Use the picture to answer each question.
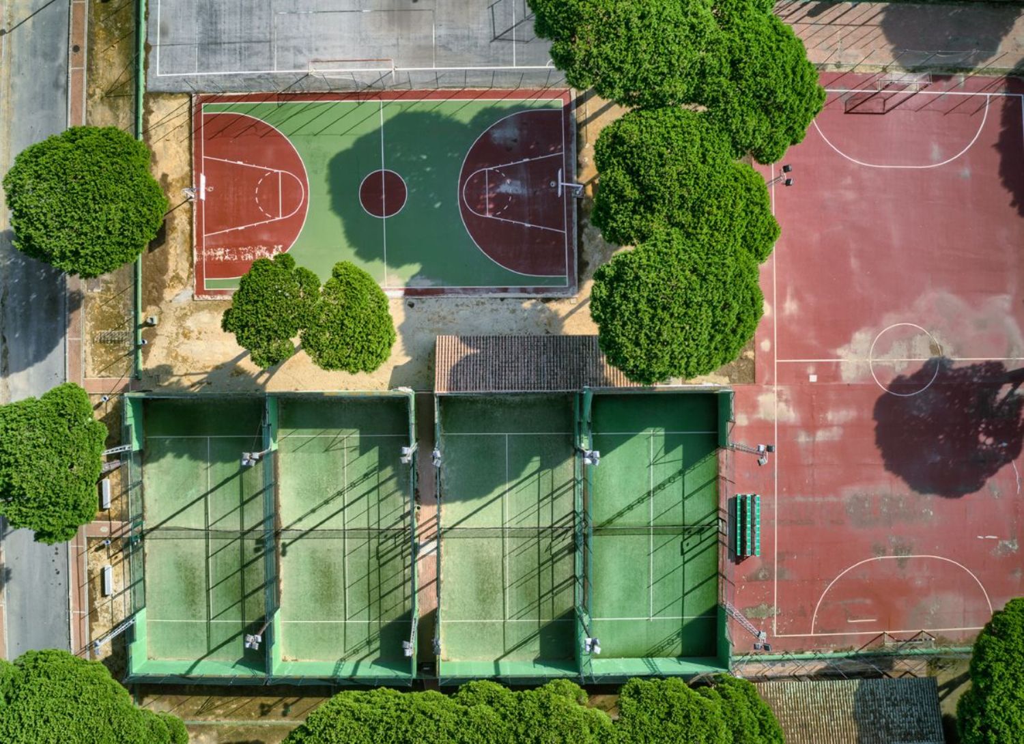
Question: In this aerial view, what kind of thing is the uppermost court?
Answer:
basketball court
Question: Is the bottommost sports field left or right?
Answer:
right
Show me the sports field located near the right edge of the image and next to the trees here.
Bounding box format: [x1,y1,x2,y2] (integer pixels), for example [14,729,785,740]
[730,71,1024,658]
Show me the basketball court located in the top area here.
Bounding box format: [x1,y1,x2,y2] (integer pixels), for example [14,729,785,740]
[194,88,578,300]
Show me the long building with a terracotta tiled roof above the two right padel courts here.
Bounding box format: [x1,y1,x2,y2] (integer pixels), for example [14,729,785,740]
[434,335,650,392]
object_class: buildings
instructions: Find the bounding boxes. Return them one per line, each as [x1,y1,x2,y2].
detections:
[749,676,950,744]
[434,335,650,392]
